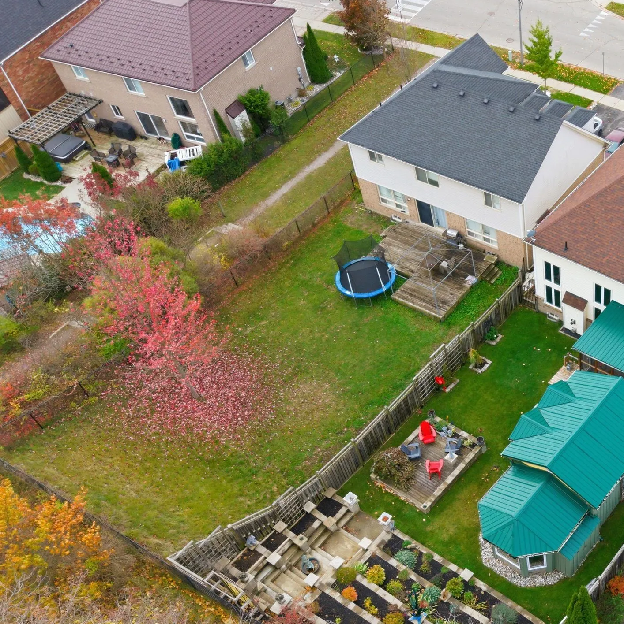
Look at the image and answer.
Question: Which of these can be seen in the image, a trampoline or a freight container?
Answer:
trampoline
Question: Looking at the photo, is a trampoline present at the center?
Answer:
Yes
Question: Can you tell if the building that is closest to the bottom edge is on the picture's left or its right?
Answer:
right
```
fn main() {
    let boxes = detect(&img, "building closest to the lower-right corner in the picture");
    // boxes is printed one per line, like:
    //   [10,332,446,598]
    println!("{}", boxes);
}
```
[477,369,624,577]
